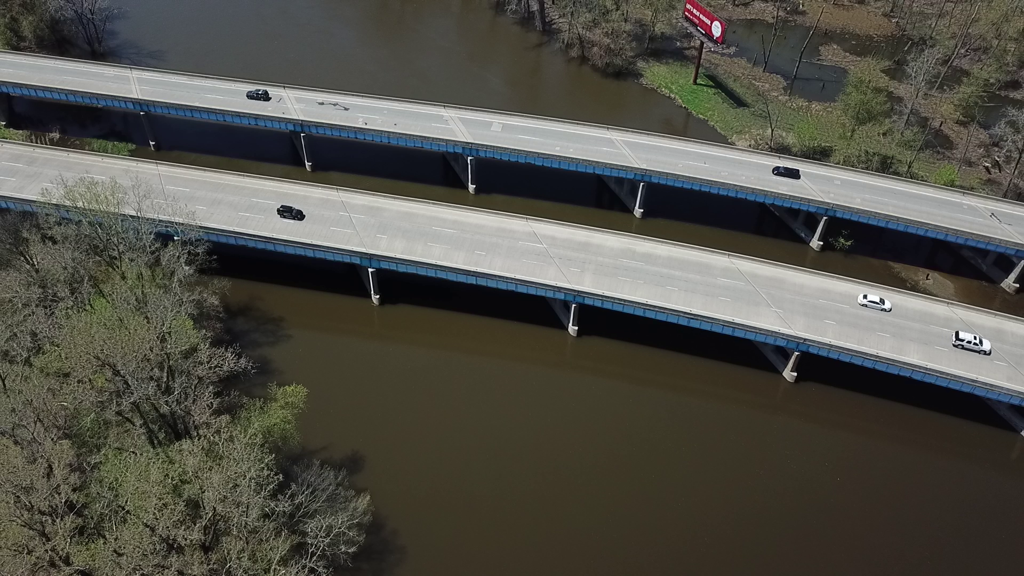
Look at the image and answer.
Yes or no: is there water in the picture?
Yes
